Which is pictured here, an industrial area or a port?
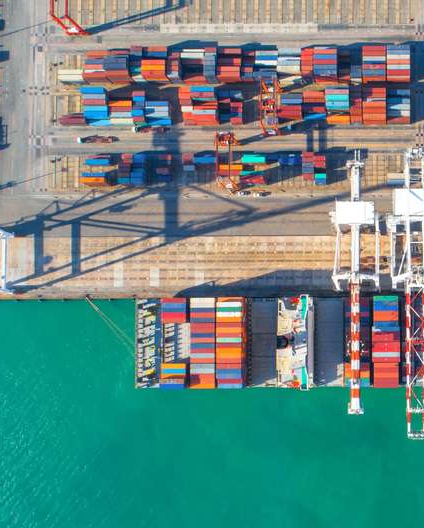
port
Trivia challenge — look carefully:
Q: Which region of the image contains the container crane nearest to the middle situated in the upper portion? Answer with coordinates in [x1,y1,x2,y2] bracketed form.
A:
[214,130,245,192]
